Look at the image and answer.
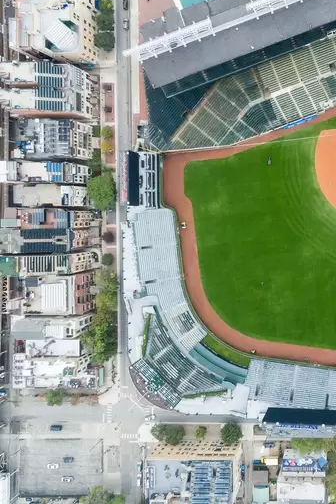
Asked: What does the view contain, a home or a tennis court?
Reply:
home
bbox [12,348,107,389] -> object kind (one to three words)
building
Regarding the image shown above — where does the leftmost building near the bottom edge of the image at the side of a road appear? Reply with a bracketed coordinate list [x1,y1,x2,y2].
[148,443,241,504]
